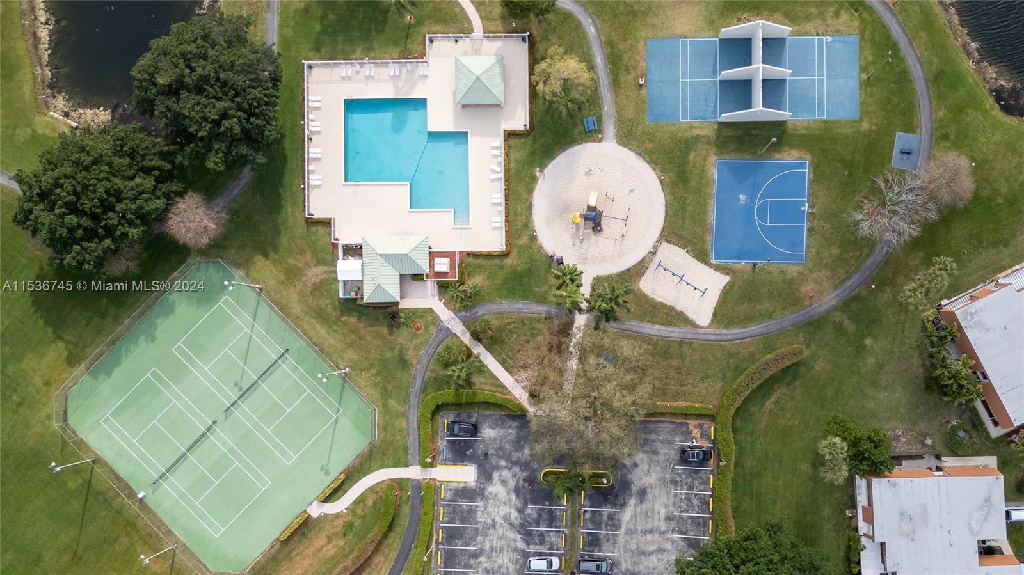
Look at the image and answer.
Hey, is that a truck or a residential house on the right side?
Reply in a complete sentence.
It is a residential house that can be seen on the right side.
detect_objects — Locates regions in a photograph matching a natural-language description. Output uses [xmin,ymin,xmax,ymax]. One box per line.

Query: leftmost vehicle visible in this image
[445,421,478,438]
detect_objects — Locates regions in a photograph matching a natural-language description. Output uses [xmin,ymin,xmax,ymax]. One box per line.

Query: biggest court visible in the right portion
[647,34,859,122]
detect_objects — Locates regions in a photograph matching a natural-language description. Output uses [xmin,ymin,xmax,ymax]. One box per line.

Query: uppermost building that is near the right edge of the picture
[934,264,1024,427]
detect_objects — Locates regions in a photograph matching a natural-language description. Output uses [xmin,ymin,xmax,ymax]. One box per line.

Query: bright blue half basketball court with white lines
[711,159,810,263]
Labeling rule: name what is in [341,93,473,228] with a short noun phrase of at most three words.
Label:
swimming pool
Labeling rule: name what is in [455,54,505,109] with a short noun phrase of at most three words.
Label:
building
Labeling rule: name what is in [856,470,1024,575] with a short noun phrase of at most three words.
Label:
house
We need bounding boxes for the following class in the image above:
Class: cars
[578,559,614,575]
[527,557,561,575]
[680,448,713,465]
[1006,507,1024,525]
[445,421,478,438]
